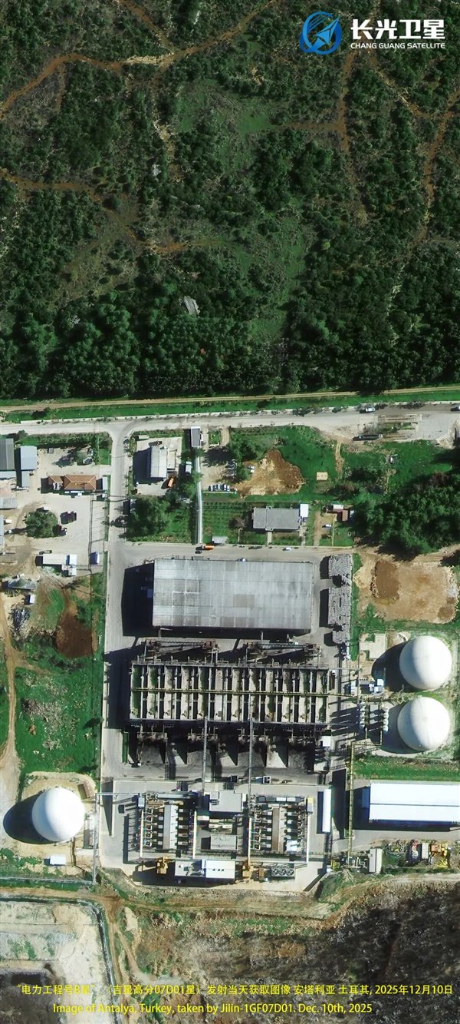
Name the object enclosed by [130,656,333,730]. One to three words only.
building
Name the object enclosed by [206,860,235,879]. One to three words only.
house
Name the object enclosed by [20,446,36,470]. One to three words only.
shed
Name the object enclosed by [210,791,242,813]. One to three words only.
building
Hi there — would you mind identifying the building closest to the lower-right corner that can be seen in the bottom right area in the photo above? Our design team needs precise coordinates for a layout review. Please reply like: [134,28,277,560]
[369,848,382,873]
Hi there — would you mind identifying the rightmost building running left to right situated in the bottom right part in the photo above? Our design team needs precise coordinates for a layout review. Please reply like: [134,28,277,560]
[362,782,460,821]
